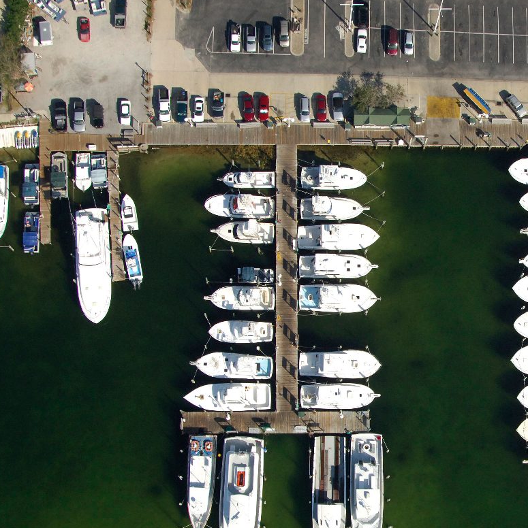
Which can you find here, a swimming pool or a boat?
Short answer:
boat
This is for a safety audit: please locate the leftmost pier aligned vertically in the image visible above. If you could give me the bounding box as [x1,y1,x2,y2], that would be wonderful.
[38,125,52,245]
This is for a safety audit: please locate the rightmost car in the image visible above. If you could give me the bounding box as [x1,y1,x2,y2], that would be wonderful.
[504,90,528,119]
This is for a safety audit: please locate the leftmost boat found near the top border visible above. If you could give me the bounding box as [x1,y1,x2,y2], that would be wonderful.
[27,0,67,22]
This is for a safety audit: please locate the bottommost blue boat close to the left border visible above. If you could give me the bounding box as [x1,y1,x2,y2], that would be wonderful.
[22,213,39,261]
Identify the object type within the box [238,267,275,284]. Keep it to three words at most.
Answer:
boat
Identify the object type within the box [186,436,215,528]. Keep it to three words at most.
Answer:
boat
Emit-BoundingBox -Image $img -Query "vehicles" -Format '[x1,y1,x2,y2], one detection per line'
[357,30,367,53]
[258,96,269,121]
[229,24,241,52]
[79,18,89,42]
[194,98,204,122]
[356,1,367,30]
[463,83,492,116]
[504,90,528,119]
[246,26,257,52]
[403,32,414,55]
[387,29,399,56]
[262,24,273,51]
[119,100,131,125]
[52,101,66,132]
[156,88,170,122]
[332,94,344,121]
[211,92,224,118]
[71,101,85,132]
[299,97,310,122]
[244,95,253,120]
[175,90,187,122]
[113,0,126,28]
[93,102,103,128]
[278,19,290,47]
[316,96,327,122]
